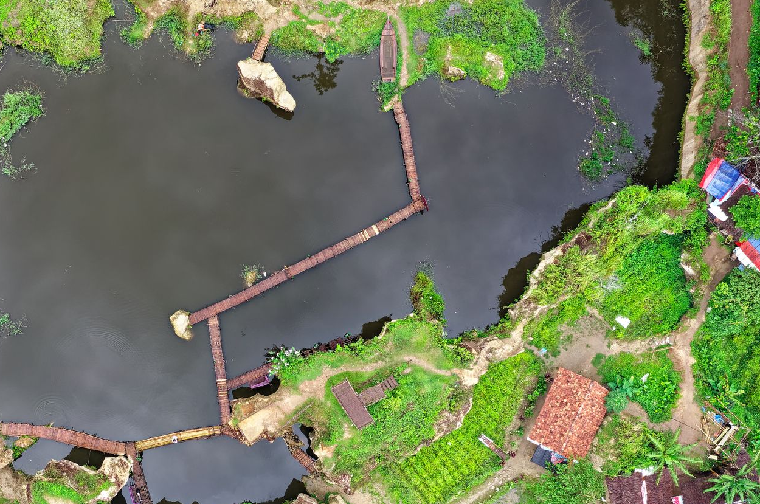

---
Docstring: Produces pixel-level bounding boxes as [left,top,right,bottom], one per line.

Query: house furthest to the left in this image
[520,368,609,469]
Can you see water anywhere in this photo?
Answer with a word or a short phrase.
Yes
